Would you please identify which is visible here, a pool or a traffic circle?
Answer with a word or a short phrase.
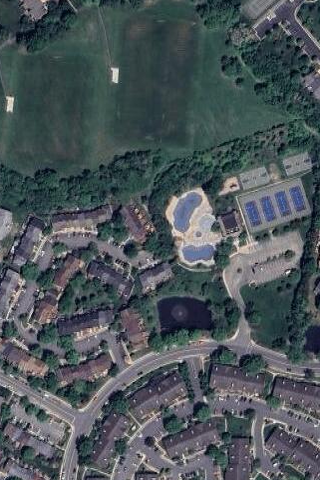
pool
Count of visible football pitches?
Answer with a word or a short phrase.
two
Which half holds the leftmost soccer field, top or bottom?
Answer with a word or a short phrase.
top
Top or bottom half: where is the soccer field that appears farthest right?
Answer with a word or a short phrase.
top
